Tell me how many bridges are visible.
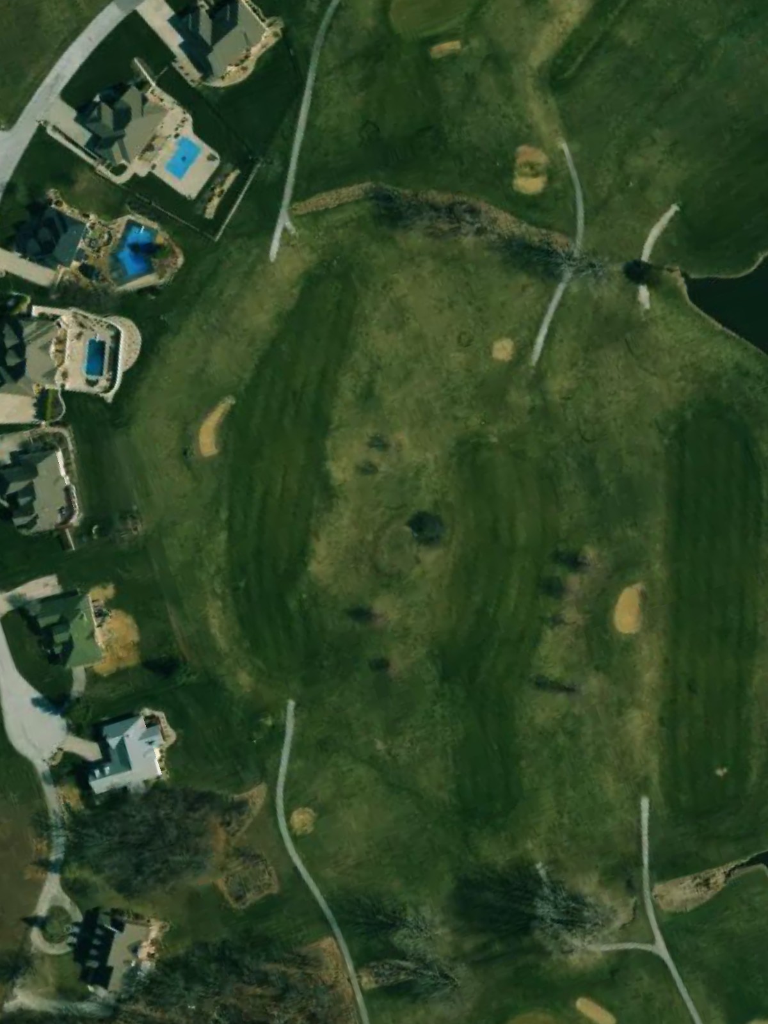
0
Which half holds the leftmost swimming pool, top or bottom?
top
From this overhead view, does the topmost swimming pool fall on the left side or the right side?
left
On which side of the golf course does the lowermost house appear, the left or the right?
to the left of it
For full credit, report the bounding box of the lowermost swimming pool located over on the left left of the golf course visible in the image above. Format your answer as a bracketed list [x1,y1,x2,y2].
[59,311,119,394]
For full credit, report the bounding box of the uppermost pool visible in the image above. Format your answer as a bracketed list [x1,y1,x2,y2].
[124,113,220,200]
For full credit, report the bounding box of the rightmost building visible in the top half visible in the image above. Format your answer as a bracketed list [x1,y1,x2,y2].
[169,0,268,78]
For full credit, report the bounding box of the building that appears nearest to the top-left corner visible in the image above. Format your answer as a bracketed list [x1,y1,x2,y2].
[76,86,168,166]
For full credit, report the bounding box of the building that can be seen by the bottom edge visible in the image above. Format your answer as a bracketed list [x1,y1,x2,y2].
[66,909,152,990]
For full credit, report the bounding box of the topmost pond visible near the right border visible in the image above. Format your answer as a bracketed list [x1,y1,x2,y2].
[684,257,768,353]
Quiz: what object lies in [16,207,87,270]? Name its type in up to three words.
house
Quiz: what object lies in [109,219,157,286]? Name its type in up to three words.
swimming pool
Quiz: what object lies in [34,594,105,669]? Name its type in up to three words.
house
